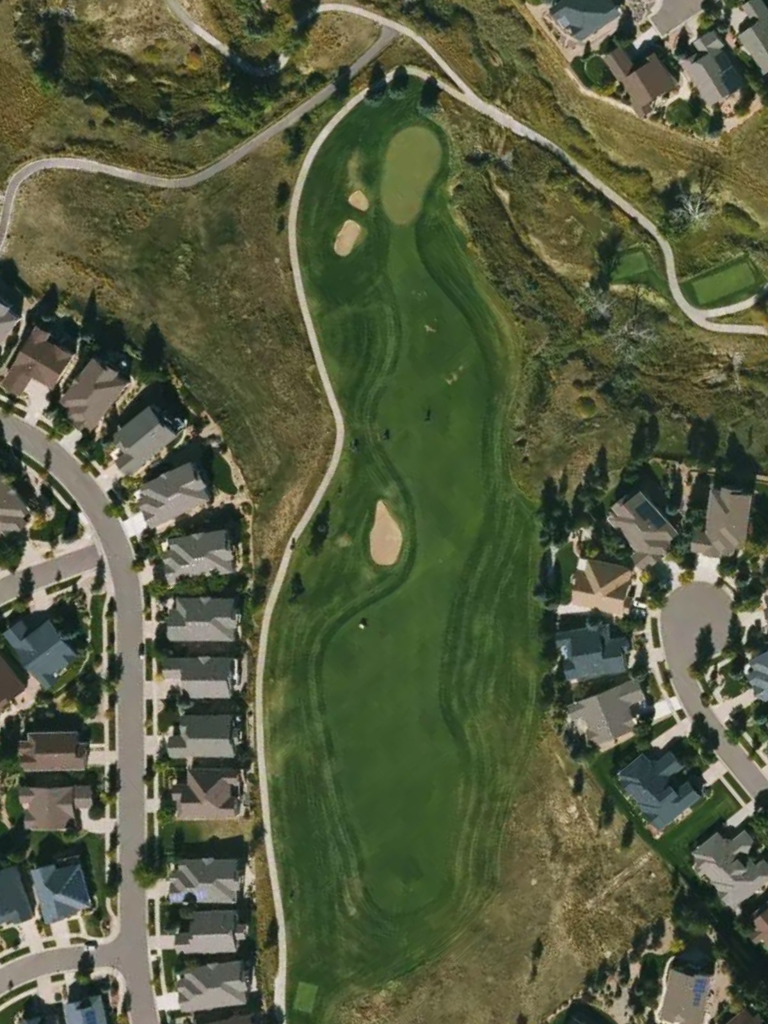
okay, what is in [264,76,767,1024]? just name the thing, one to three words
golf course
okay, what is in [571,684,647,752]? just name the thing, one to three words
house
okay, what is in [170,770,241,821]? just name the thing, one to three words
house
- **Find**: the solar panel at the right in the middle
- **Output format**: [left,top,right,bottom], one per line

[639,502,664,527]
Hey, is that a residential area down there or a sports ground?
residential area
